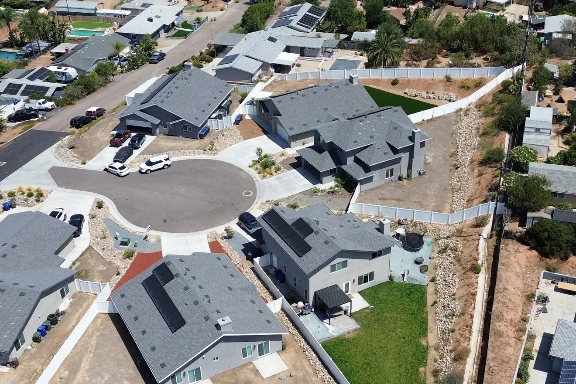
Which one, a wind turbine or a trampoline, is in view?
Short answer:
trampoline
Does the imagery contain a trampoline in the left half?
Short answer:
No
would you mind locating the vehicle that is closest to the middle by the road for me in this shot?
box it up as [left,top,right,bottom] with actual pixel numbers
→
[234,206,262,234]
